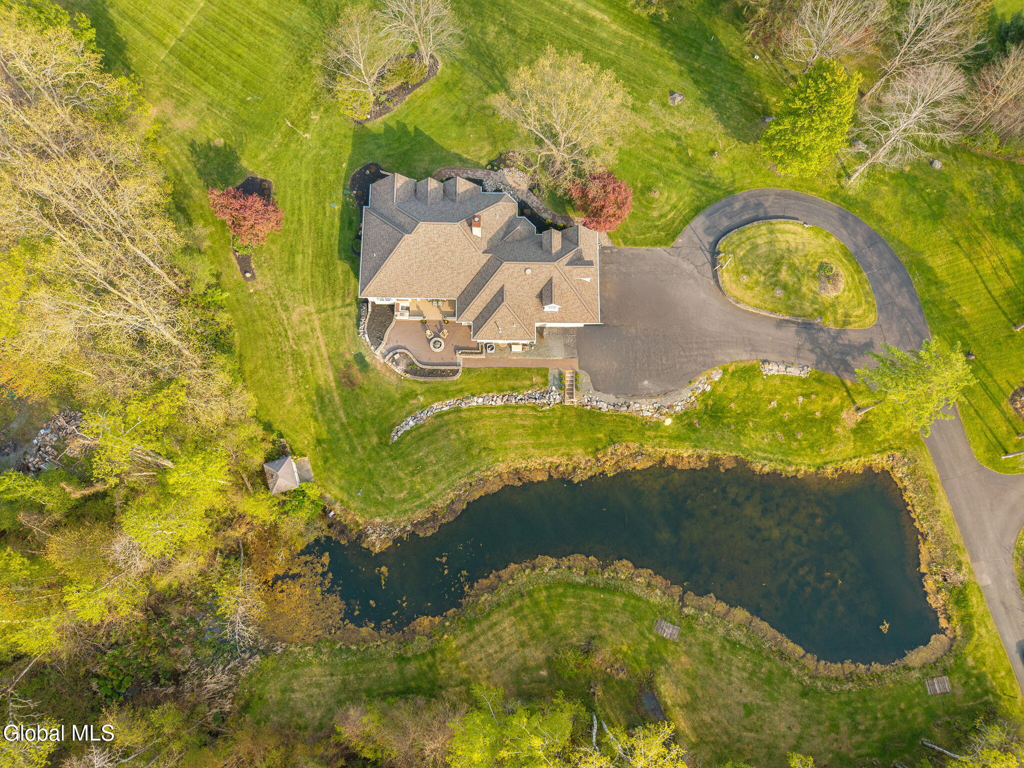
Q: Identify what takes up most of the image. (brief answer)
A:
grass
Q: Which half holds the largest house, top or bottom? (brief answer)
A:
top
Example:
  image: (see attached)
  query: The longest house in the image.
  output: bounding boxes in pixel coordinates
[359,173,607,346]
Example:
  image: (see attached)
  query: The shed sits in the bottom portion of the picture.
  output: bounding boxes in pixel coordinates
[267,456,305,496]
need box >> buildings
[267,456,305,496]
[359,173,607,346]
